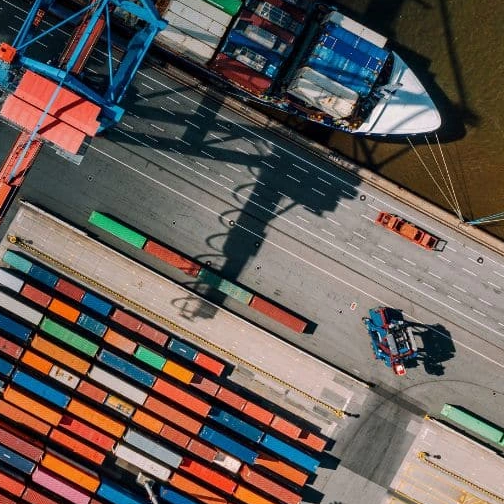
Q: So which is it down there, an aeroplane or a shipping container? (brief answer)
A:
shipping container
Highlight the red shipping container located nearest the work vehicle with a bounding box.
[249,295,308,334]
